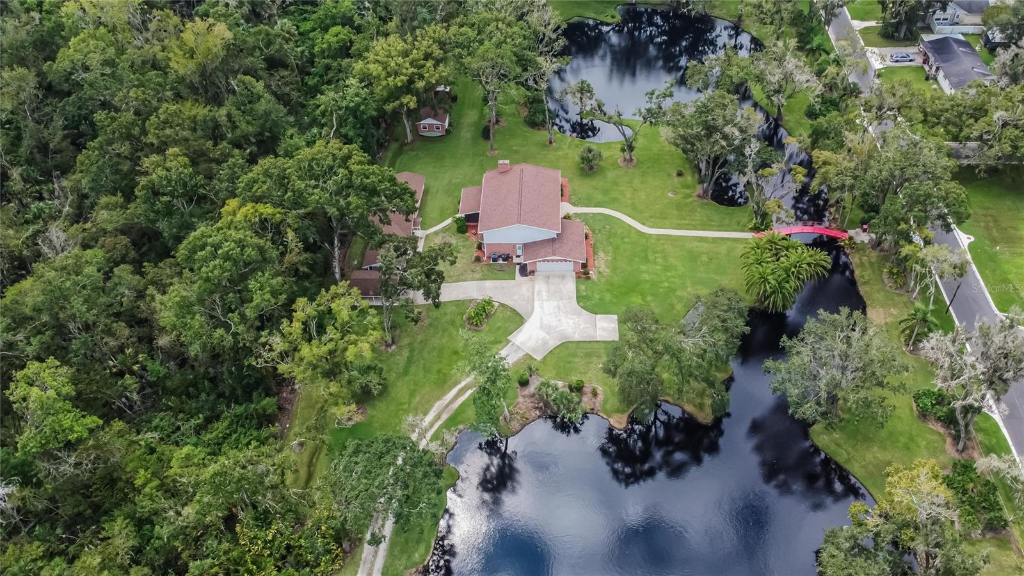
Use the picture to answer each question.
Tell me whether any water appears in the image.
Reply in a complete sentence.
Yes, there is water in the image.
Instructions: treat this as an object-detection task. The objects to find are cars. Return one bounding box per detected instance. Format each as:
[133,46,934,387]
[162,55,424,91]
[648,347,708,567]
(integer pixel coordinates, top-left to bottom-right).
[913,41,927,52]
[889,50,917,62]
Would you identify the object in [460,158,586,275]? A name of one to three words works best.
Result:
house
